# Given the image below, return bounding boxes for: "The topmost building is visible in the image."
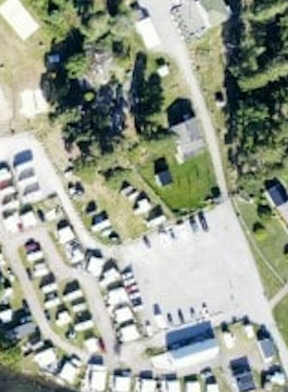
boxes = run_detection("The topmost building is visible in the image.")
[189,0,230,27]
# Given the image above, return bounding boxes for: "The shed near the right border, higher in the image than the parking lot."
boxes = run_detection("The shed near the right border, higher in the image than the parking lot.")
[265,184,288,206]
